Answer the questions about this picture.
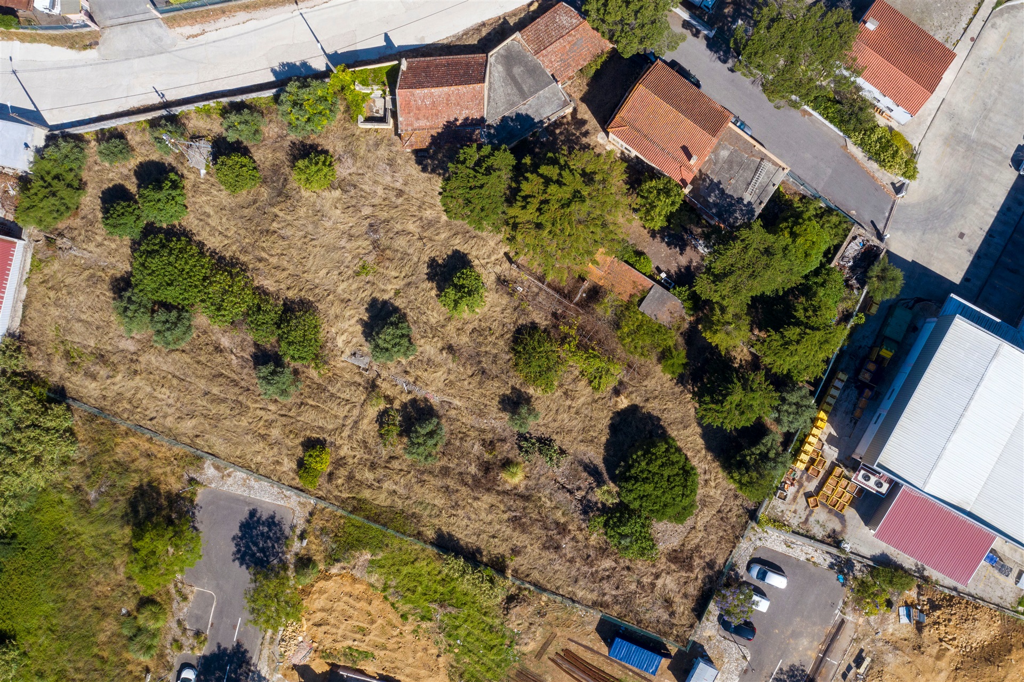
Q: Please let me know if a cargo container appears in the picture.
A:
Yes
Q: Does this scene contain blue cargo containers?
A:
Yes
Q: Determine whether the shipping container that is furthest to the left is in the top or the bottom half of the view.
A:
bottom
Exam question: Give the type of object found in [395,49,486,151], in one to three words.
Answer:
house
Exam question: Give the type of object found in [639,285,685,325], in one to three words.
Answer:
shed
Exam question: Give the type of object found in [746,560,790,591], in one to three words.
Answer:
car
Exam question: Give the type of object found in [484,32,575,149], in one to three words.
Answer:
house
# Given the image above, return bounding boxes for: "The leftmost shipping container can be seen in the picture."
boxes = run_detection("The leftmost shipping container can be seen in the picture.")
[605,627,664,677]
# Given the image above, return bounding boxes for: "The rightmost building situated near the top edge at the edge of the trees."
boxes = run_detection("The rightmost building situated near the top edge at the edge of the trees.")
[837,0,957,124]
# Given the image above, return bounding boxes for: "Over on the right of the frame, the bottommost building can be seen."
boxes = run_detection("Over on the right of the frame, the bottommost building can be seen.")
[679,650,719,682]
